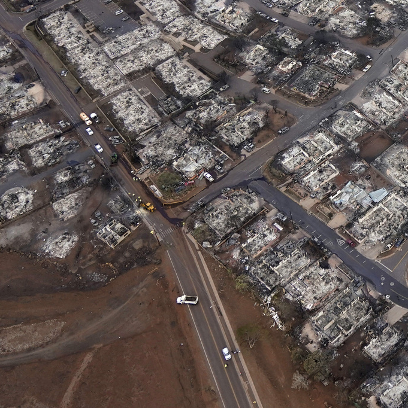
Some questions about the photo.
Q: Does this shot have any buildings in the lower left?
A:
No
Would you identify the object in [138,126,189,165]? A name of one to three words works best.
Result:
building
